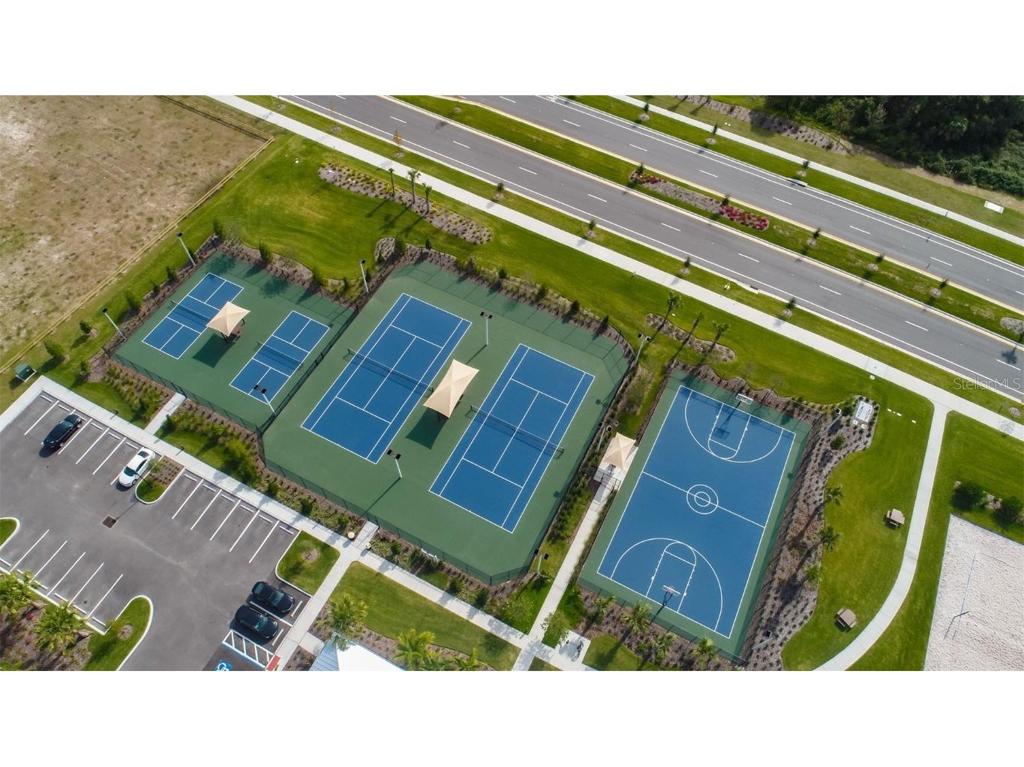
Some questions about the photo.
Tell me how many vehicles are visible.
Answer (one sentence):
I count 4 vehicles.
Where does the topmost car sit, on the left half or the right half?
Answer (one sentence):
The topmost car sits on the left side.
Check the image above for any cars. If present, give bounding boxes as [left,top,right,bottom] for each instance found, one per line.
[250,582,294,614]
[42,416,82,452]
[117,449,155,488]
[233,605,279,641]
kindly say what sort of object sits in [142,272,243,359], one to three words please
sports court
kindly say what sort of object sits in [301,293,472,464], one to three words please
tennis court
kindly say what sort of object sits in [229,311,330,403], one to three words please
sports court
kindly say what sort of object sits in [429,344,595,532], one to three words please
tennis court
